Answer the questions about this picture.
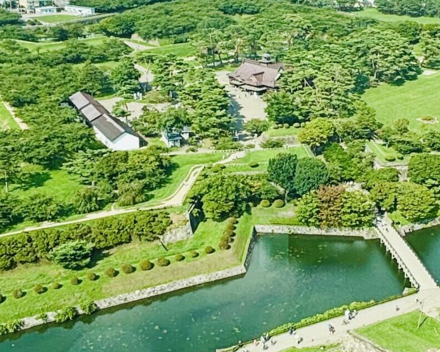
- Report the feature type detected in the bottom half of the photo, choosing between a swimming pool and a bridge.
bridge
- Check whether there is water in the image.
Yes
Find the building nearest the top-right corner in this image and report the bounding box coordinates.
[230,58,288,94]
